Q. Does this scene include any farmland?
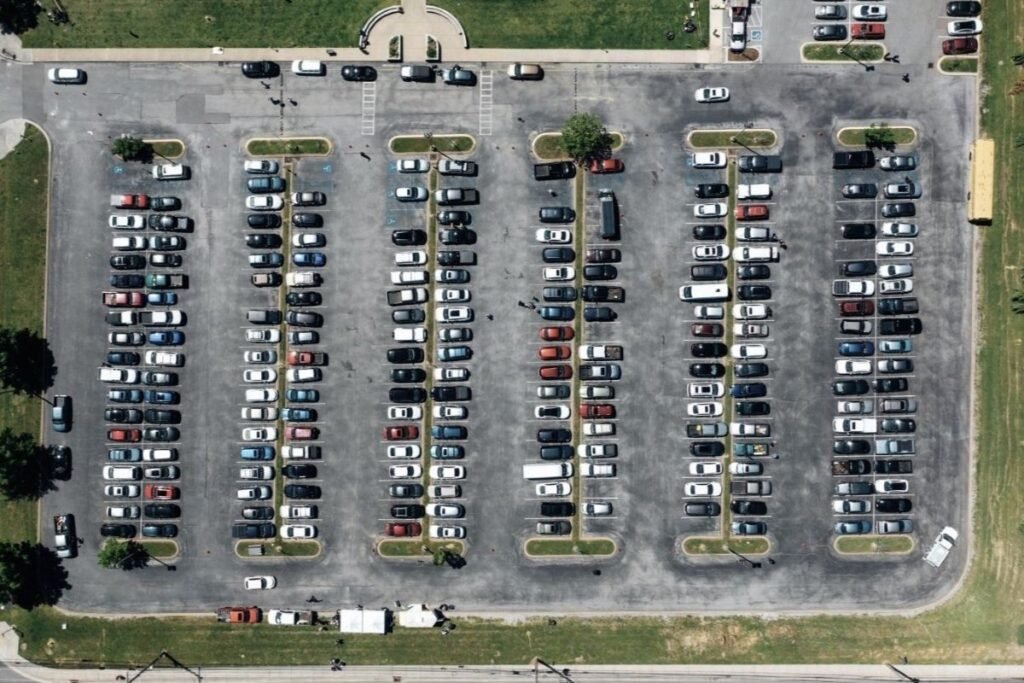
No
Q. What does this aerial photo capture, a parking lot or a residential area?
parking lot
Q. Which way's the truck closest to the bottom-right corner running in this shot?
on a diagonal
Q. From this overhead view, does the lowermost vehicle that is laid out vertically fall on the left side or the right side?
left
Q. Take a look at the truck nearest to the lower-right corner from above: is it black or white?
white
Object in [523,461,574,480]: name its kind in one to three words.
vehicle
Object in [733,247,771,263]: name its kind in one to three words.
car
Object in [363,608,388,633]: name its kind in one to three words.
tent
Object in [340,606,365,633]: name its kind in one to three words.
tent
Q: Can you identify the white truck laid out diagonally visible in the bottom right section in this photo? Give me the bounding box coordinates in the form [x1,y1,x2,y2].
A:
[924,525,958,567]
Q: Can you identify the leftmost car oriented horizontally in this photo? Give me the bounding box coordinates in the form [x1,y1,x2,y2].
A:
[47,67,84,84]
